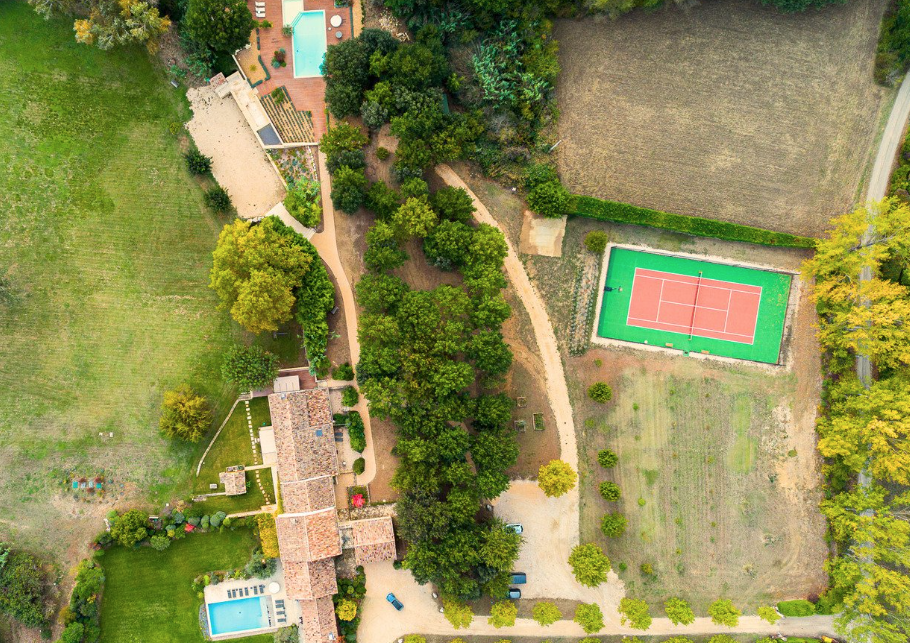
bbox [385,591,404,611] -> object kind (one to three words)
car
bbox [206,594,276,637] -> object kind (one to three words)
swimming pool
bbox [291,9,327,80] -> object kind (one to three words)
swimming pool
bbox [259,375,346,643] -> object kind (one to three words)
house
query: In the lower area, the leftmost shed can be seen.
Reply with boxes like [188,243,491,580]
[219,471,250,496]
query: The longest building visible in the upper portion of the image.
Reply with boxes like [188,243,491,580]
[211,71,285,152]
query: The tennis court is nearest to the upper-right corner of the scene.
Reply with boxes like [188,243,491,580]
[591,242,795,364]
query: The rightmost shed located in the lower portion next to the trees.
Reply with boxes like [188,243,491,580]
[351,514,396,565]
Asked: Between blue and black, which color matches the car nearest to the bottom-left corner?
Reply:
blue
